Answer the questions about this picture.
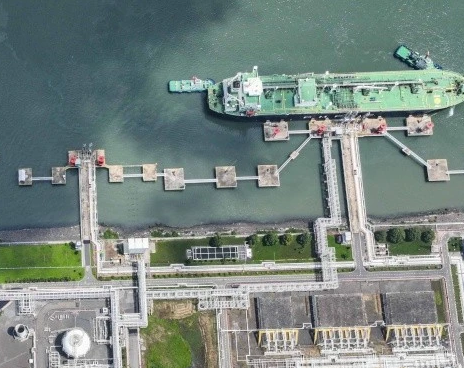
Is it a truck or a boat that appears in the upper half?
boat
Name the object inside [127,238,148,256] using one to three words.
building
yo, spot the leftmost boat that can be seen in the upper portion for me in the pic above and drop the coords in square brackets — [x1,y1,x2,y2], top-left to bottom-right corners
[167,77,211,94]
